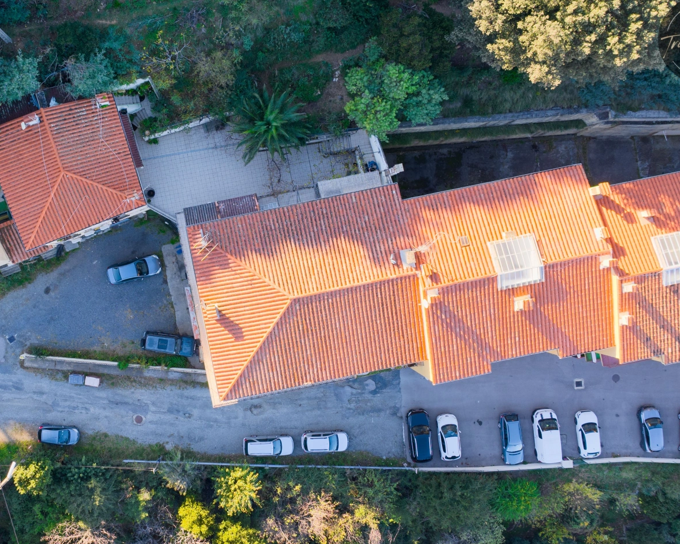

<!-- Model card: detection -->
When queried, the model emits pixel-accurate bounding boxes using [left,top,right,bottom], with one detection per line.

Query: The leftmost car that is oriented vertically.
[407,407,434,464]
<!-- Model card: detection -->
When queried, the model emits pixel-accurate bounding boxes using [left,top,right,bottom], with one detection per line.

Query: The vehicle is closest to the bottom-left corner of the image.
[38,424,81,448]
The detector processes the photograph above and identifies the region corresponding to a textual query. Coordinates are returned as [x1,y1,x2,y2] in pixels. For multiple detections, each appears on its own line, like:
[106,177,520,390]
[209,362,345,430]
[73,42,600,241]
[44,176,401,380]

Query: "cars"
[107,256,163,285]
[139,333,196,359]
[38,424,81,448]
[436,413,463,461]
[573,409,602,458]
[498,412,526,464]
[637,405,667,453]
[407,407,434,464]
[300,429,348,455]
[243,433,293,459]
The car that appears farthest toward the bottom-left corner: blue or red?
blue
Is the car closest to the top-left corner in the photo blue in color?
Yes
